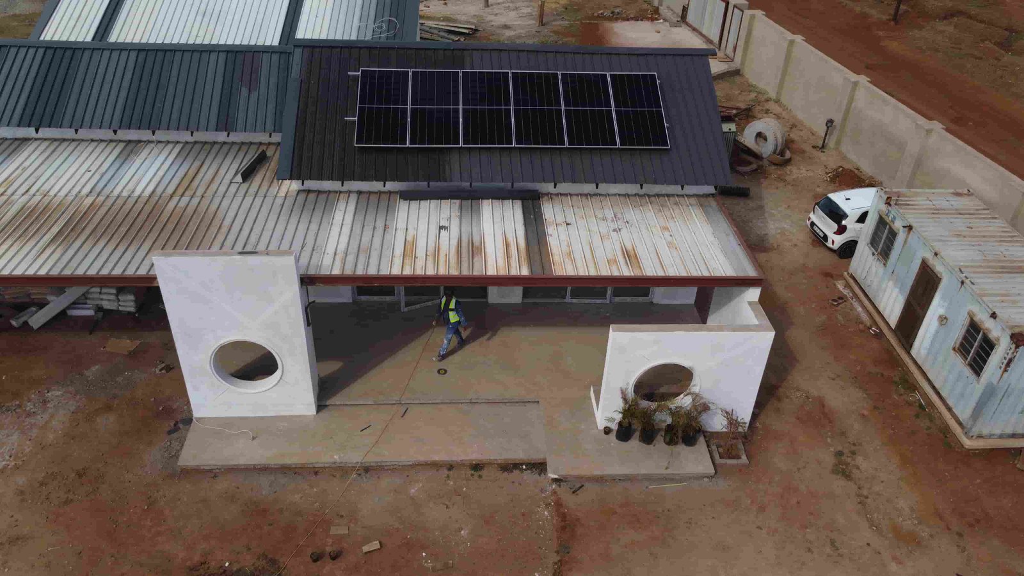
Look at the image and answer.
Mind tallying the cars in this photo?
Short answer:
one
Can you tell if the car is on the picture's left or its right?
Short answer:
right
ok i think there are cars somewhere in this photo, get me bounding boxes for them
[810,186,880,257]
